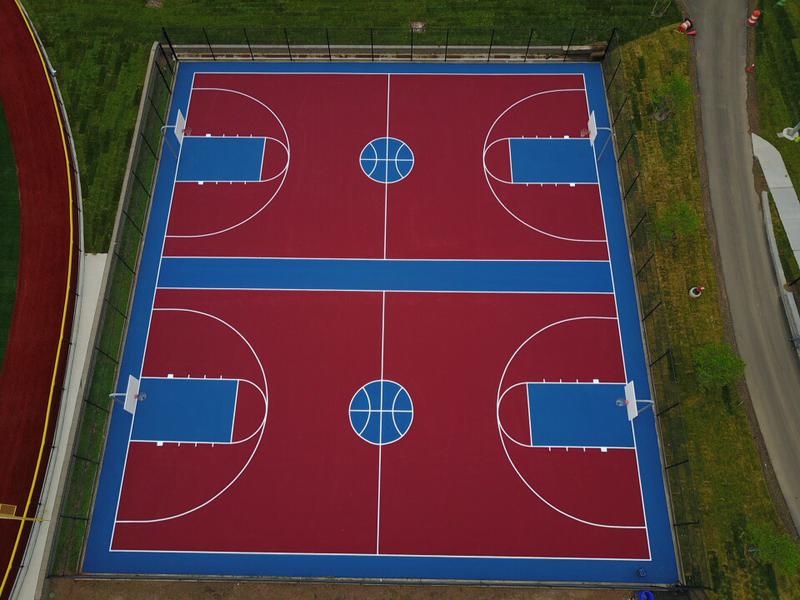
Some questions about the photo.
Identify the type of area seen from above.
sports ground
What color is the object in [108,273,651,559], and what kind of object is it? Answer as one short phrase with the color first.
red basketball court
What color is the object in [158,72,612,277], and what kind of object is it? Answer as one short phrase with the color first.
red basketball court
